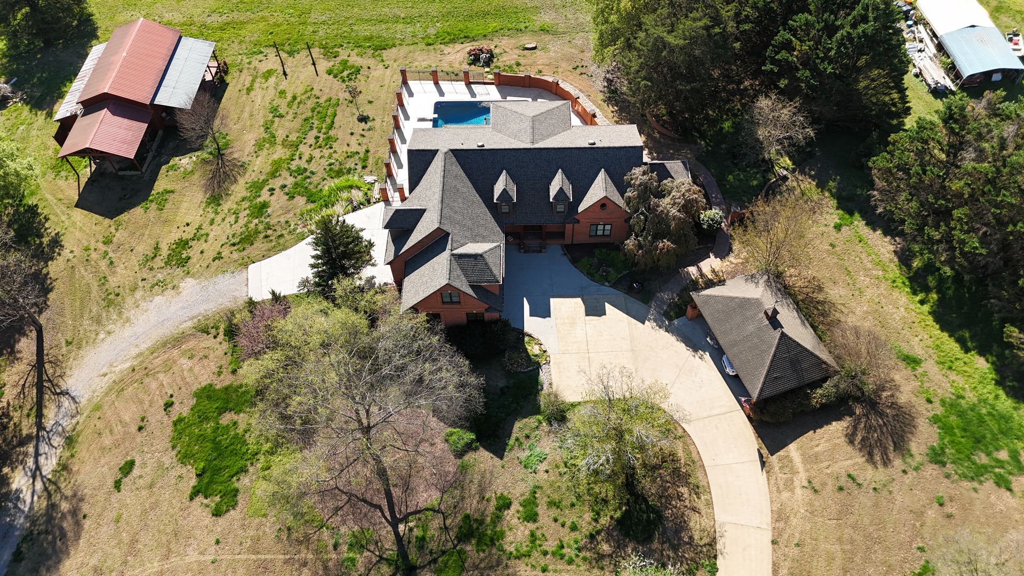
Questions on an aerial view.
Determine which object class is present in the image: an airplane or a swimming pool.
swimming pool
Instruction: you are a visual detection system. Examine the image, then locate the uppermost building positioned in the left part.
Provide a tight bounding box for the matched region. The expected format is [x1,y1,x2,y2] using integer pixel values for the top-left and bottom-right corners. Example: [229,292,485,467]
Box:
[58,17,223,180]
